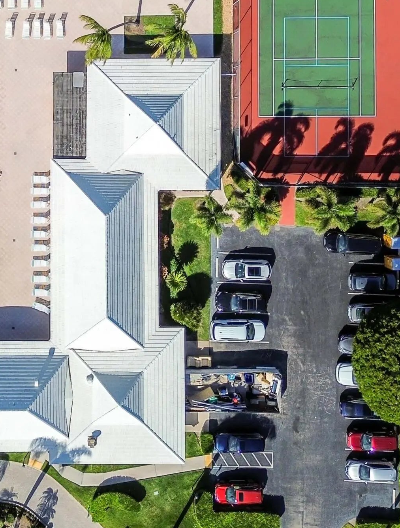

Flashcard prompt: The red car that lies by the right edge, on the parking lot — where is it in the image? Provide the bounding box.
[346,428,397,455]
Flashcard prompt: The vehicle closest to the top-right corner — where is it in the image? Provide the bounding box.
[324,230,382,257]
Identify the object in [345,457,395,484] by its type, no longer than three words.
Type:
car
